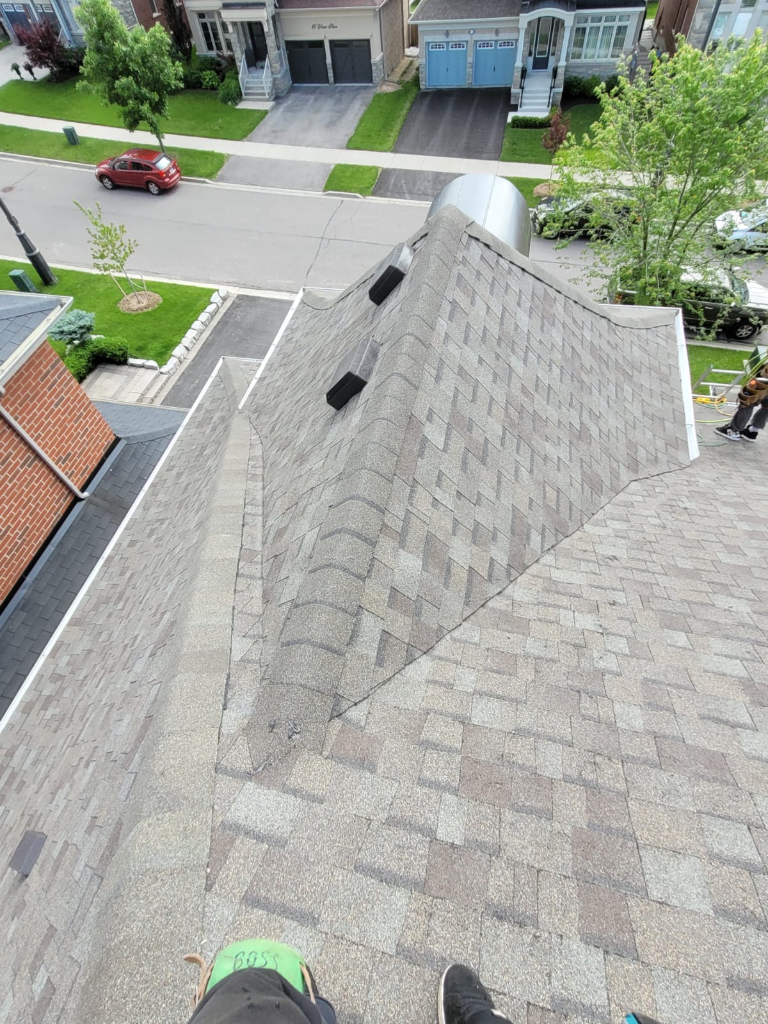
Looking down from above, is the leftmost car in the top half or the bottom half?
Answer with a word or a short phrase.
top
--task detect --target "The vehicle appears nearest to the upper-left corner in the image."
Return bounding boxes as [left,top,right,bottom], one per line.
[86,142,178,193]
